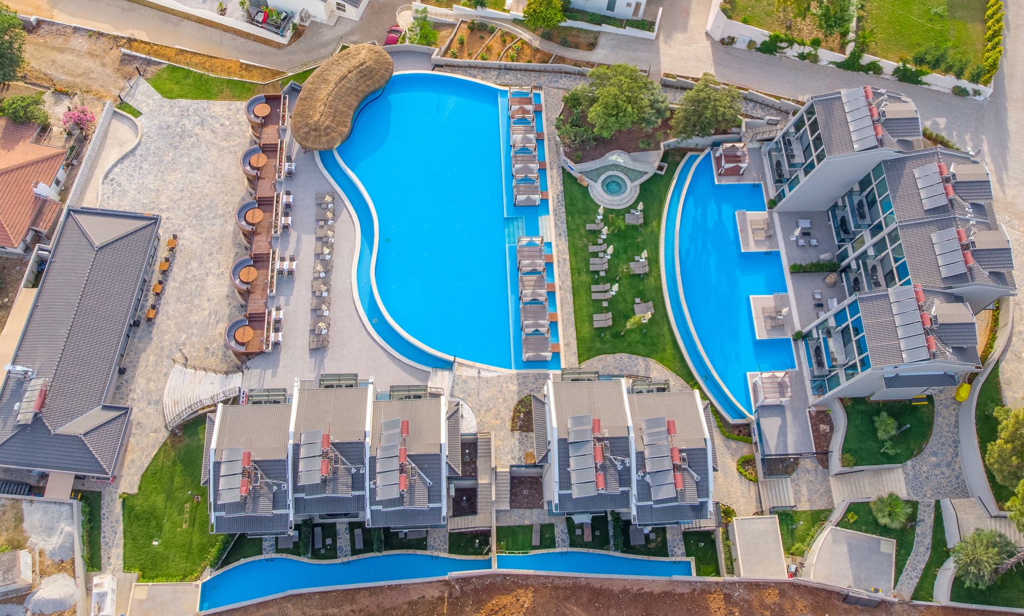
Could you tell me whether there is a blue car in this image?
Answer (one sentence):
No, there isn't any blue car down there.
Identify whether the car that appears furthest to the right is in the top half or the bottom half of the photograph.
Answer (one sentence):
It is in the top half that the car that appears furthest to the right appears.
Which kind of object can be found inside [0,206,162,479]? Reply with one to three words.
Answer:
building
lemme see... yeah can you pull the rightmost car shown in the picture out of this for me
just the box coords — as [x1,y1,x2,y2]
[379,20,406,49]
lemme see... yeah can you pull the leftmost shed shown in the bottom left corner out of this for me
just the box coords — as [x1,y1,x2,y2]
[0,550,35,596]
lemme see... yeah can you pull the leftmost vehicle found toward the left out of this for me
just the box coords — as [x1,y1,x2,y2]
[91,574,119,616]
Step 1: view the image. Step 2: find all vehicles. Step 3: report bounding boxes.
[379,20,406,49]
[91,574,119,616]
